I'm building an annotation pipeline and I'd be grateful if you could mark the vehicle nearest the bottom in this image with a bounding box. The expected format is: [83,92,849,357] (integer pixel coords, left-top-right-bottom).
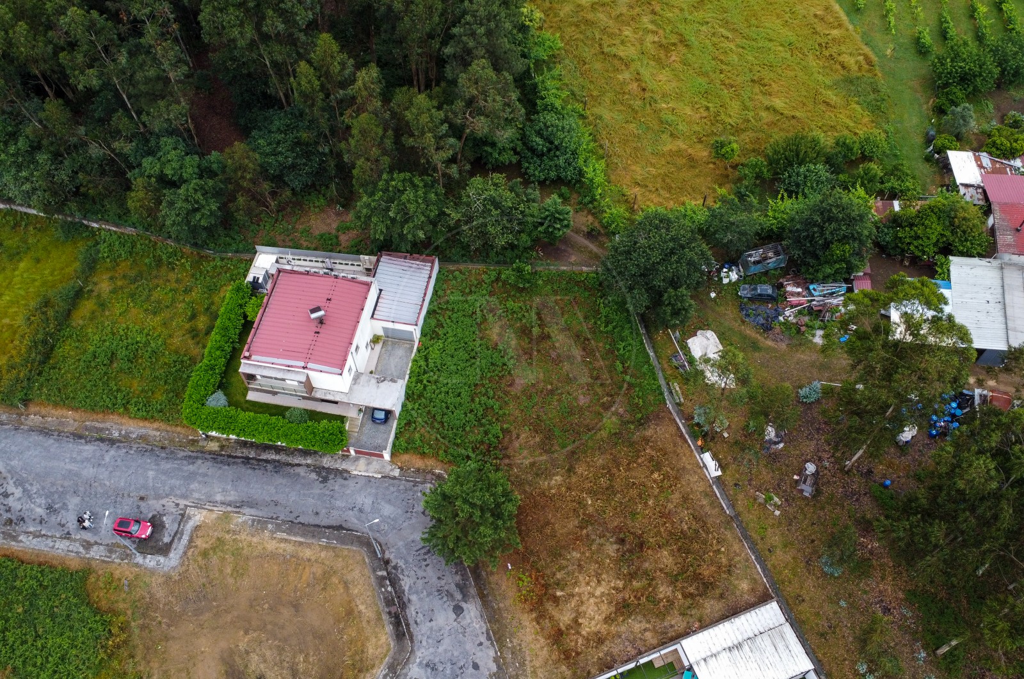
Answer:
[110,514,158,543]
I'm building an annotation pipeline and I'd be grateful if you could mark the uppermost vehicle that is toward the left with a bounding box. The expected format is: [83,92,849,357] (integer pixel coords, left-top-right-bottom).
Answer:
[372,407,392,423]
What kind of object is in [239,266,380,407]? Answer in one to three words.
house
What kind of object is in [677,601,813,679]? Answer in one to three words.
shed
